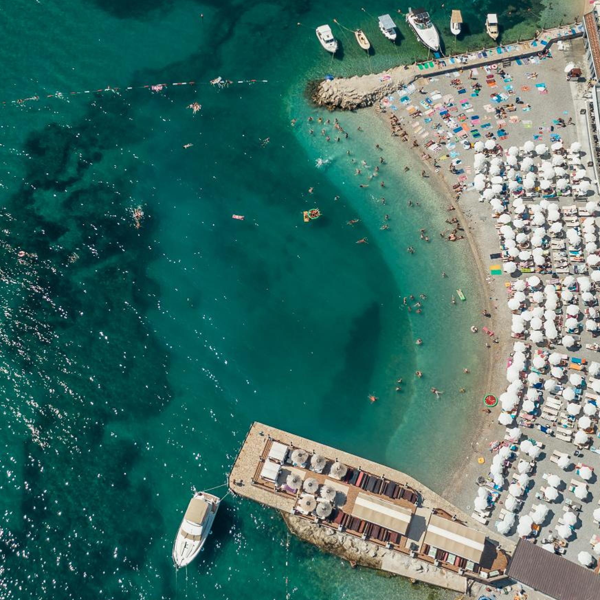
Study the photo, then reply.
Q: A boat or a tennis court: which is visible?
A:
boat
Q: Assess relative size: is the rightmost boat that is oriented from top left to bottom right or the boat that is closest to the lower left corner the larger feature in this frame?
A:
the boat that is closest to the lower left corner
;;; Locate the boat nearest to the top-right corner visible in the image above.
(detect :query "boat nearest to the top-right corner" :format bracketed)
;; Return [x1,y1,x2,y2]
[485,8,500,40]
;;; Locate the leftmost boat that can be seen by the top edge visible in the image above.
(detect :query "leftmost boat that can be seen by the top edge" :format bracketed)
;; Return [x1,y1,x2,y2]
[316,20,337,55]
